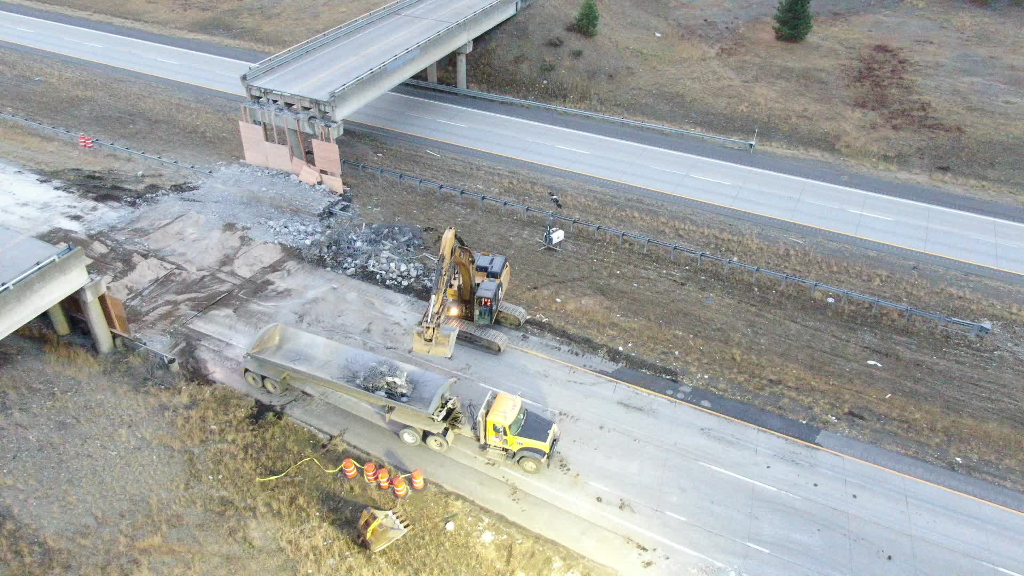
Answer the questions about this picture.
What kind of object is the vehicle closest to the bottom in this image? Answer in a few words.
truck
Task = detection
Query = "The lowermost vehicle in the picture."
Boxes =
[402,385,567,478]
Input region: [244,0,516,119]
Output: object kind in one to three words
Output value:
overpass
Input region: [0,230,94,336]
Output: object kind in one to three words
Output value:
overpass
